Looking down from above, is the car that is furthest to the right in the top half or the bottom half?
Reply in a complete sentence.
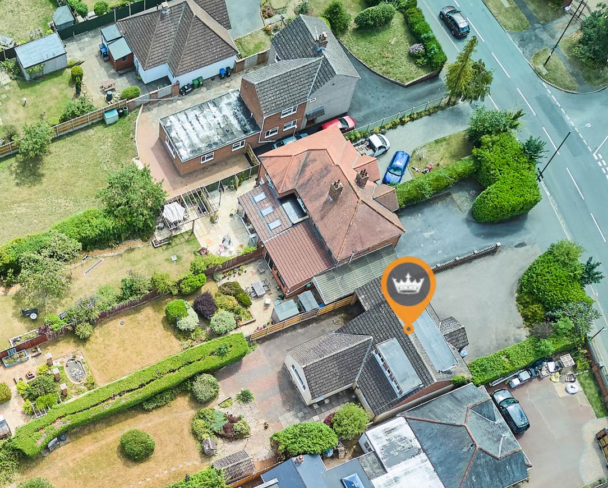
The car that is furthest to the right is in the bottom half of the image.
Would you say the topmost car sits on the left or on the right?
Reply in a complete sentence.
The topmost car appears in the right half of the scene.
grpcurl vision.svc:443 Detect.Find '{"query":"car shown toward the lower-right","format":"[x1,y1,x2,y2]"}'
[489,386,536,439]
